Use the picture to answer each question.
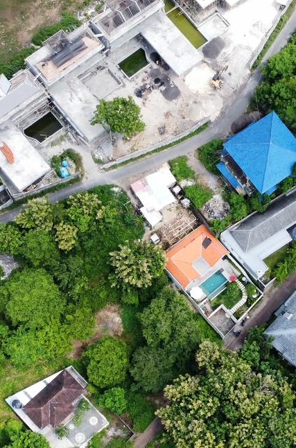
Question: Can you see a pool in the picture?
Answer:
Yes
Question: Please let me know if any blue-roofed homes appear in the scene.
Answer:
Yes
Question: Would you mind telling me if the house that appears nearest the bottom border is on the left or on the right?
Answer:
left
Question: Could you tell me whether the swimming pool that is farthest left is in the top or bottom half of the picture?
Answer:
top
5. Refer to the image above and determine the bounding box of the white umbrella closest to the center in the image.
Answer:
[190,286,204,301]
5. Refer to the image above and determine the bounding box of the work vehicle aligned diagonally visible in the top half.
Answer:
[206,70,230,99]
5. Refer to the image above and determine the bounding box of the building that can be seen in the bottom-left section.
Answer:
[6,367,88,441]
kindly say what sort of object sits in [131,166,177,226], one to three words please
building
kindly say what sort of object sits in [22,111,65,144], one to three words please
swimming pool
